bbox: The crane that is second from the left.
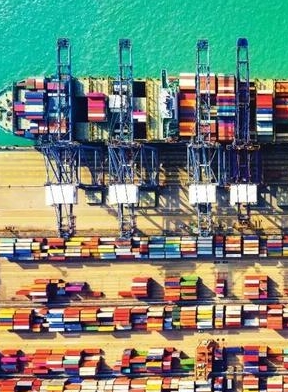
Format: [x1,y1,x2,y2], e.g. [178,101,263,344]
[99,39,166,239]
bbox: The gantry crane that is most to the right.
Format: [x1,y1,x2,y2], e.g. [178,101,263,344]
[226,38,267,238]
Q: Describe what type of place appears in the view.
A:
port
